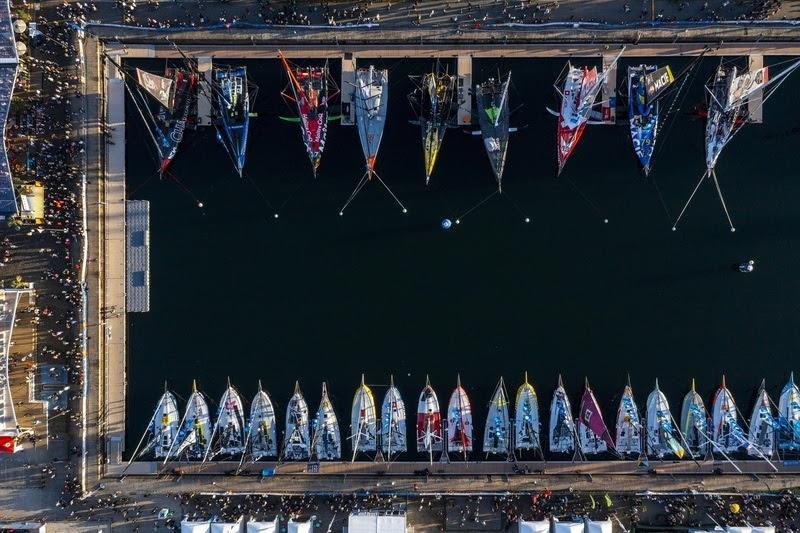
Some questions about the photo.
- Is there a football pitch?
No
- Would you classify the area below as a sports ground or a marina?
marina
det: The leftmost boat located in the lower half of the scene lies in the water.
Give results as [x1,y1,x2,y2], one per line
[121,380,182,477]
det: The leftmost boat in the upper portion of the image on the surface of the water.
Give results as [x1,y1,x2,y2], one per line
[101,47,205,203]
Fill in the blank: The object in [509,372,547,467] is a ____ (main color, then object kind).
blue boat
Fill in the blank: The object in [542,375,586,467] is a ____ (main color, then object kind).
blue boat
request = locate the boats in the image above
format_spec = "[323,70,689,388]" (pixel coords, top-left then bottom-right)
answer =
[479,376,515,471]
[341,63,404,212]
[404,54,466,185]
[275,381,314,475]
[708,376,779,477]
[376,374,410,474]
[446,374,473,474]
[773,372,800,461]
[611,375,662,468]
[236,380,284,479]
[121,380,182,477]
[101,47,205,203]
[677,379,744,477]
[673,61,800,228]
[460,66,527,220]
[412,374,444,470]
[622,43,712,202]
[542,375,586,467]
[345,374,383,467]
[196,376,248,477]
[306,382,345,475]
[577,377,625,463]
[747,379,800,463]
[278,47,346,179]
[170,36,274,211]
[159,381,216,478]
[509,372,547,467]
[547,43,626,220]
[733,261,755,272]
[644,378,704,471]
